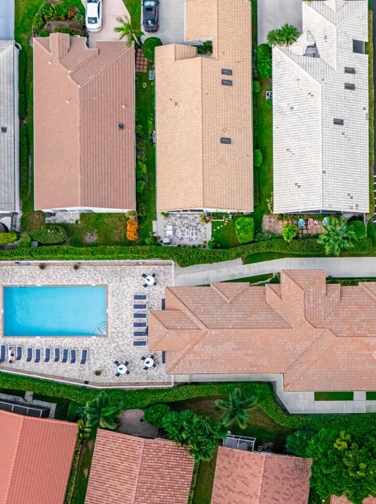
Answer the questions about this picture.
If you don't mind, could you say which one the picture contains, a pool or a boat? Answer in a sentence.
I can see a pool in this picture.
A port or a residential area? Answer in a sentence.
This looks like a residential area.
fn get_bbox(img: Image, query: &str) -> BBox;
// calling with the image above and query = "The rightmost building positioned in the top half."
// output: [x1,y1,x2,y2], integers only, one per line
[272,0,369,215]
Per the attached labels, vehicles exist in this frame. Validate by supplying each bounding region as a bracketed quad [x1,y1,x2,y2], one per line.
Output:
[142,0,160,33]
[84,0,103,33]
